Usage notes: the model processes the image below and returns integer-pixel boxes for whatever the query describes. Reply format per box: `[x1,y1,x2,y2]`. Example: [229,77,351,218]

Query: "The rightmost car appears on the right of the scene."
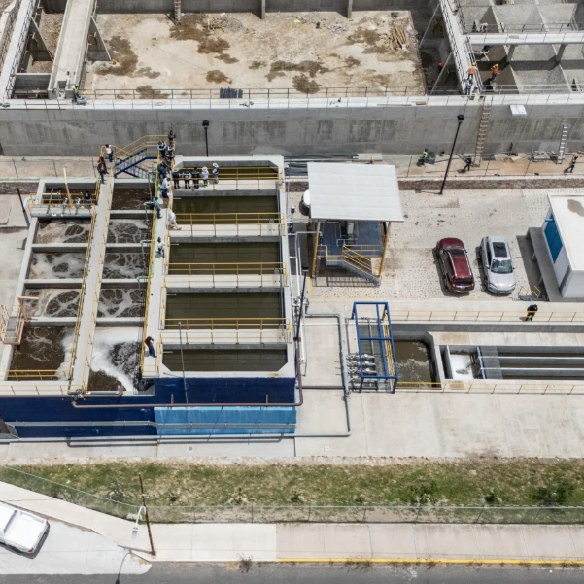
[481,236,524,296]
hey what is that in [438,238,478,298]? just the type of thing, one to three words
car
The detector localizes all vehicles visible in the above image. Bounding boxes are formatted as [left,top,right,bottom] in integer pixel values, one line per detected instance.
[481,236,524,296]
[438,238,478,298]
[0,507,48,560]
